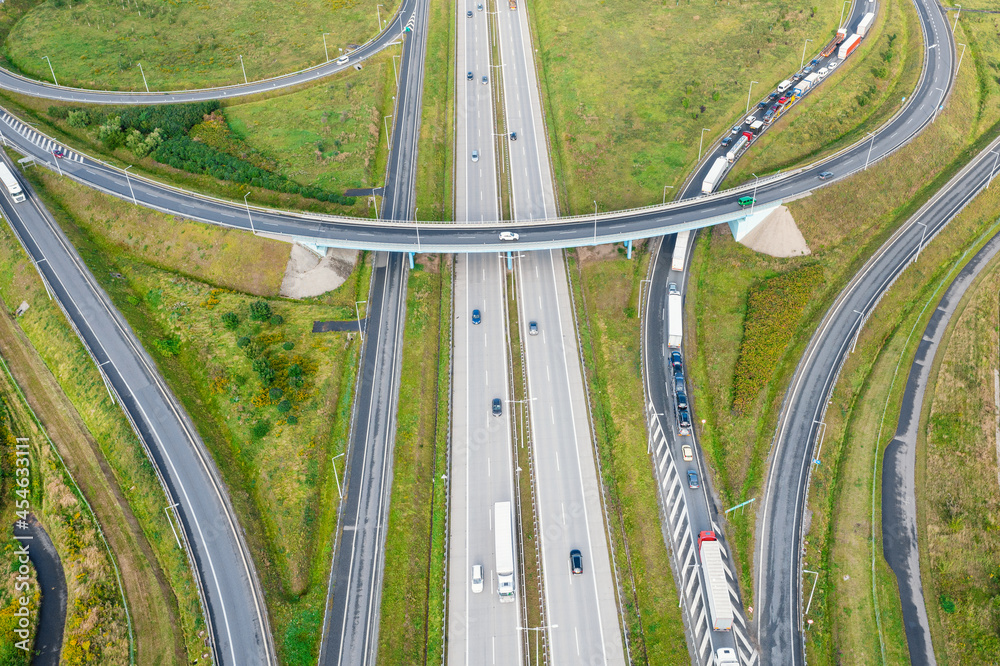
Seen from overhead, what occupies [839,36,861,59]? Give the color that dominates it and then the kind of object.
white truck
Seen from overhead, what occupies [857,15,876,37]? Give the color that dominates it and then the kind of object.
white vehicle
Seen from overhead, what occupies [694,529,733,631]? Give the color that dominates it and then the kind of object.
white truck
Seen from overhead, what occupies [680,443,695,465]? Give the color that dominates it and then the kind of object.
white car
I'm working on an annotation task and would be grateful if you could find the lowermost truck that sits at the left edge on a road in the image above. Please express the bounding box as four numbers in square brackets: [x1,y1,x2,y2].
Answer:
[0,164,25,204]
